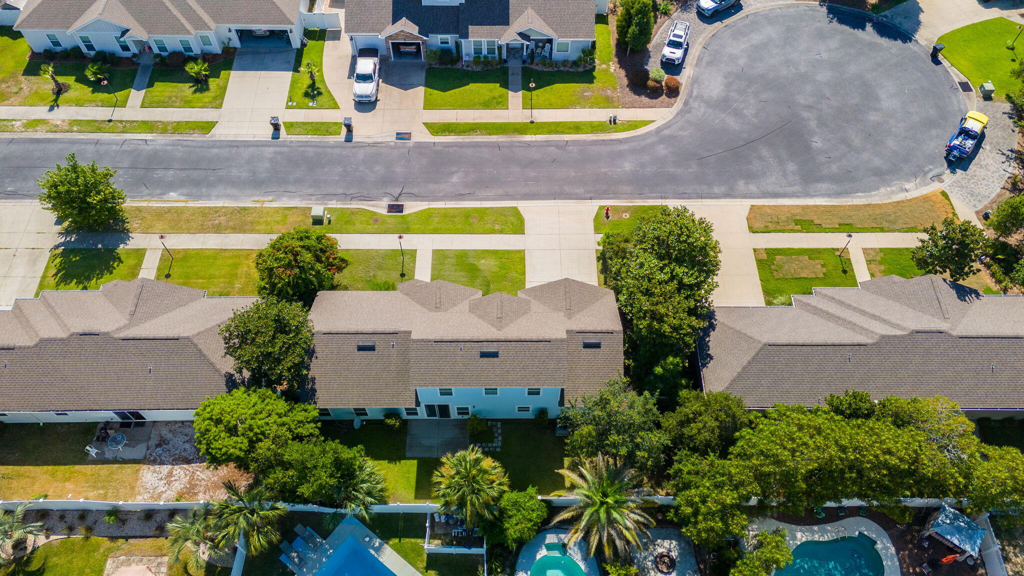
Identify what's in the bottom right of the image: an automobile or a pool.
pool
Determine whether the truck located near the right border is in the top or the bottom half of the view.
top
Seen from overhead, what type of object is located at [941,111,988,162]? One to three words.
truck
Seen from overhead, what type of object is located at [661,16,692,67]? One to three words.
car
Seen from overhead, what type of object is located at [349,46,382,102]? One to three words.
truck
